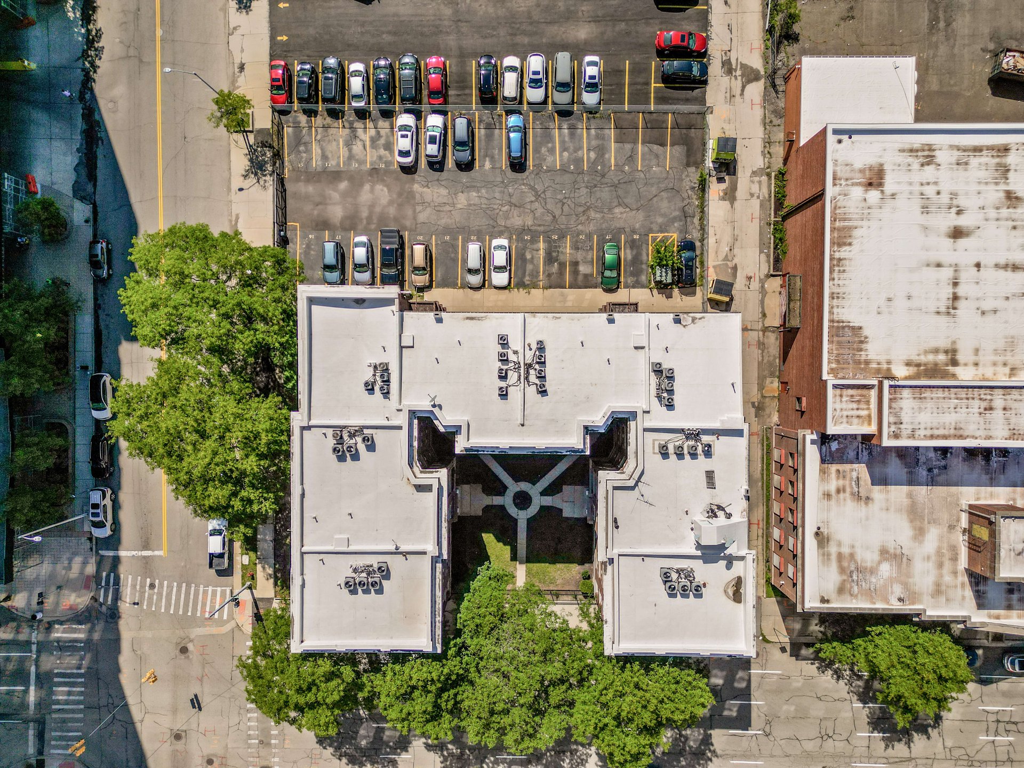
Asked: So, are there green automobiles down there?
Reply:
Yes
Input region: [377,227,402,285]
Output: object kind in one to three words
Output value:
truck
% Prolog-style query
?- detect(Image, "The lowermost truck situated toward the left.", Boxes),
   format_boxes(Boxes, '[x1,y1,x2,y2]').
[204,517,230,570]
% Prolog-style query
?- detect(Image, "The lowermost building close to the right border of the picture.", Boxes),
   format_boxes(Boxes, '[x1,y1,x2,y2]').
[769,426,1024,632]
